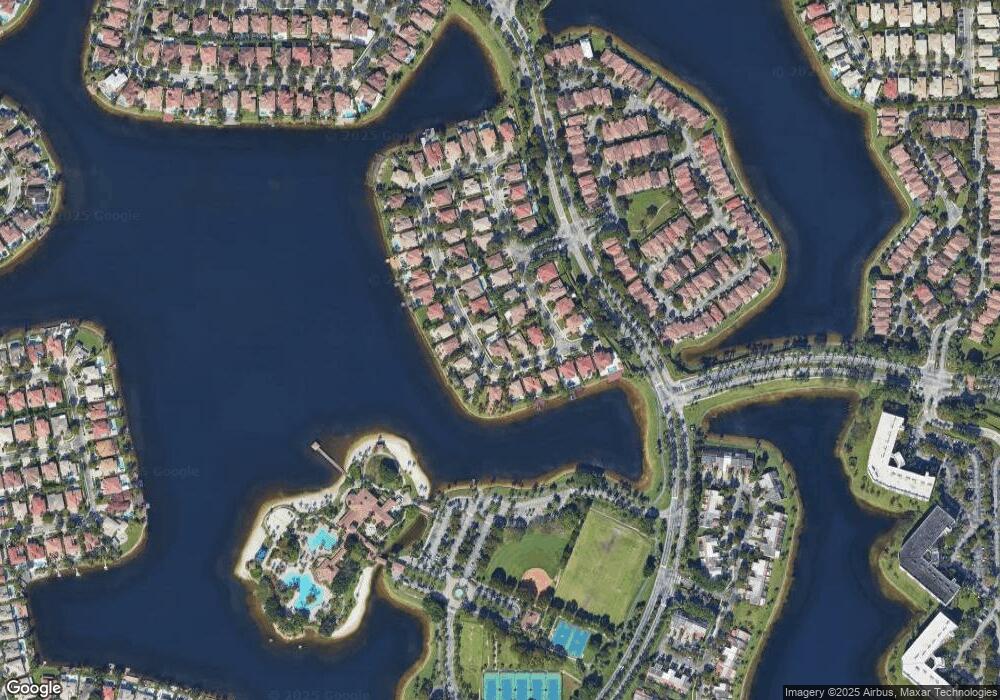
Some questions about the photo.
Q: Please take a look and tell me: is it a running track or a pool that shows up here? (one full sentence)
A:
Of the two, only a pool appears.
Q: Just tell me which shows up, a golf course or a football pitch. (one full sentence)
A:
There is a football pitch in the scene.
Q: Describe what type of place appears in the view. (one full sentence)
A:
This image shows a residential area.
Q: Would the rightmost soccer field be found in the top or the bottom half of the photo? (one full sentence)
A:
It is in the bottom half that the rightmost soccer field appears.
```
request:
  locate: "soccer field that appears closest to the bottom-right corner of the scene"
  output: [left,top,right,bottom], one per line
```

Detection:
[562,509,651,623]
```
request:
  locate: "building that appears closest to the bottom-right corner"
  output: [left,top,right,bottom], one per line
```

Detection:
[901,612,968,700]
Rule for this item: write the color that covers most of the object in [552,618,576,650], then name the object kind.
blue sports court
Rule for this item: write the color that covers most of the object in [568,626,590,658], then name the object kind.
blue sports court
